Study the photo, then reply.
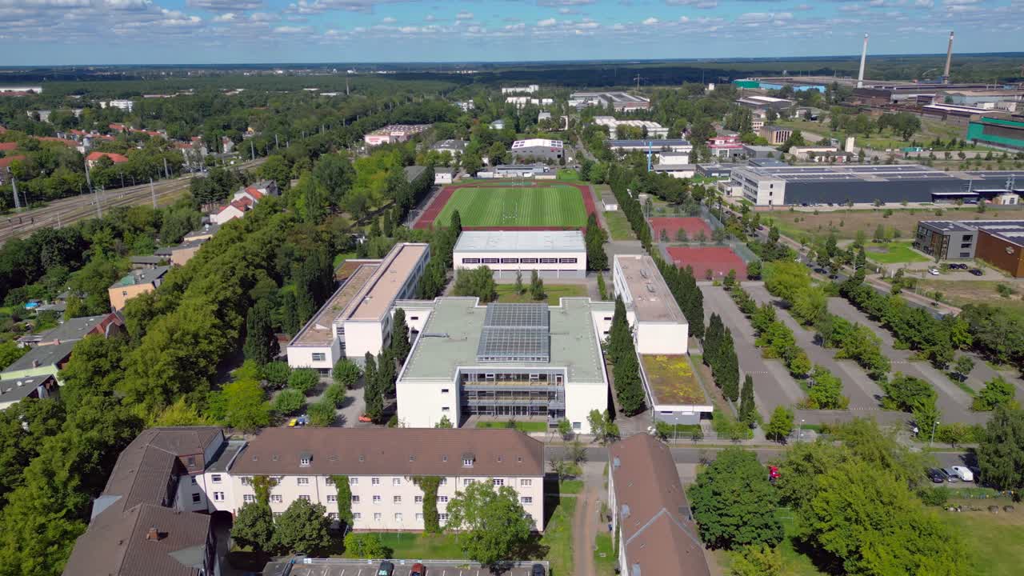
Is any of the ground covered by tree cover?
Yes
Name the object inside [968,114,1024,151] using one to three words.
building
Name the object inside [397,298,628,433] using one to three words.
building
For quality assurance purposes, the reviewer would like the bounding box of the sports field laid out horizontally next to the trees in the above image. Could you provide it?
[405,180,614,233]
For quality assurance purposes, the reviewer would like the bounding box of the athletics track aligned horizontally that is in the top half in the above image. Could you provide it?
[405,180,614,233]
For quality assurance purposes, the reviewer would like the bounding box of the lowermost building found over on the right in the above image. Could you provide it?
[606,433,714,576]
